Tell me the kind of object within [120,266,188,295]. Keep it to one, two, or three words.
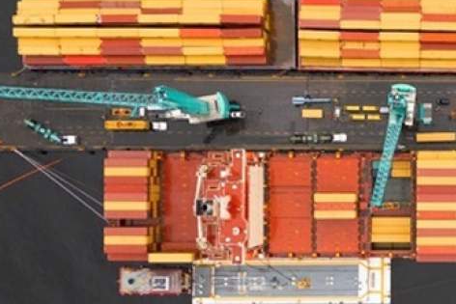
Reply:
boat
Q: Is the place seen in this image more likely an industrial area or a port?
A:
port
